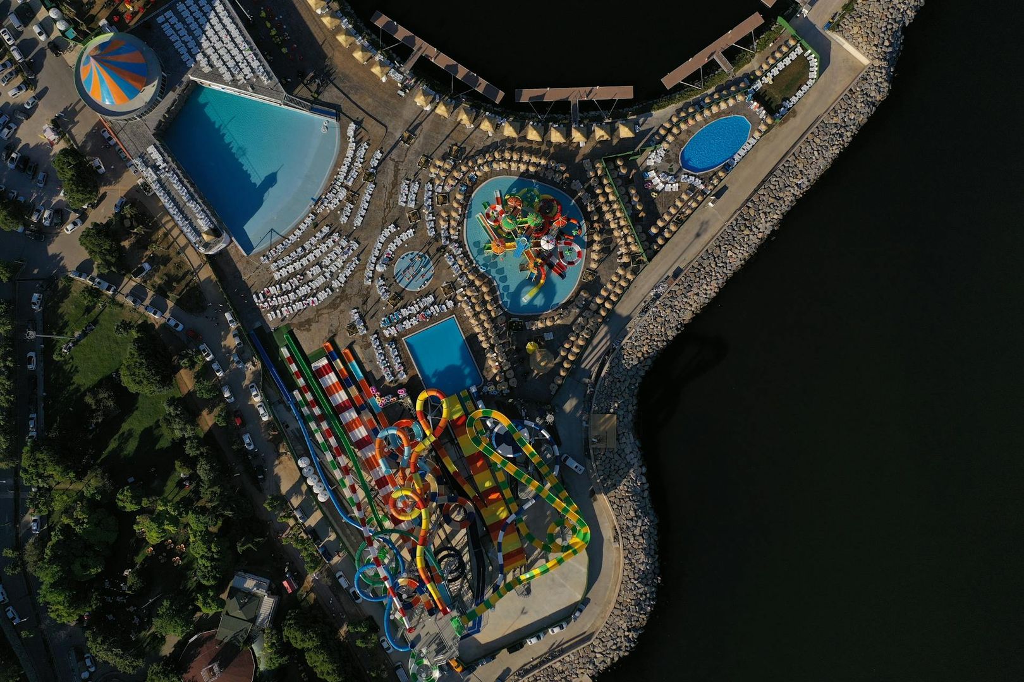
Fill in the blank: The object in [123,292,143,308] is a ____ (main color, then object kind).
gray car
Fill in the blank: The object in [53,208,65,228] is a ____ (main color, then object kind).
black vehicle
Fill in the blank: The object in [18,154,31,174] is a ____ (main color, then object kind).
black vehicle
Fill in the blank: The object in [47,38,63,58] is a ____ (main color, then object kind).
black car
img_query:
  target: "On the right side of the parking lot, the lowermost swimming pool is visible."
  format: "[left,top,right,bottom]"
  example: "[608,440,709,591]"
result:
[404,316,482,407]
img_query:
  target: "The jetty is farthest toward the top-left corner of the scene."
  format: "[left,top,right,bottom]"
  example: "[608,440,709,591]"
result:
[369,10,505,104]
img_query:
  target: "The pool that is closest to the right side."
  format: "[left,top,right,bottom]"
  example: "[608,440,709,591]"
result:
[677,112,755,176]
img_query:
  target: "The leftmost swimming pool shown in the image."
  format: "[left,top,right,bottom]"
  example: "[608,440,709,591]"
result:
[172,86,340,254]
